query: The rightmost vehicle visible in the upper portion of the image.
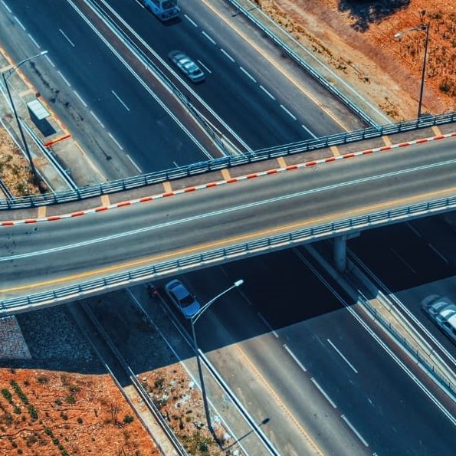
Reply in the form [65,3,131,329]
[171,52,204,80]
